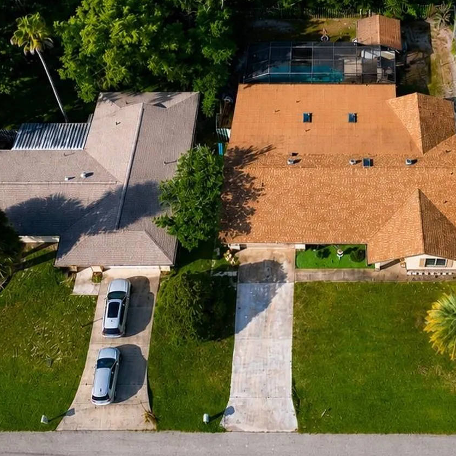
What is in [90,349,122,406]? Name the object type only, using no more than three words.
car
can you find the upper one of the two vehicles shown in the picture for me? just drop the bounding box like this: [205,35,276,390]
[101,280,132,338]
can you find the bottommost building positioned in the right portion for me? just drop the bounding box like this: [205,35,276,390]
[222,83,456,272]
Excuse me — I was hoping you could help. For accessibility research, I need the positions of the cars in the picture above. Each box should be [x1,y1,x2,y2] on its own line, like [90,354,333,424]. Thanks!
[90,349,122,406]
[101,280,132,338]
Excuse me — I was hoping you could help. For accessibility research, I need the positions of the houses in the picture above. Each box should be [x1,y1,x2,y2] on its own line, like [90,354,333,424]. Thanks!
[222,83,456,272]
[0,91,197,284]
